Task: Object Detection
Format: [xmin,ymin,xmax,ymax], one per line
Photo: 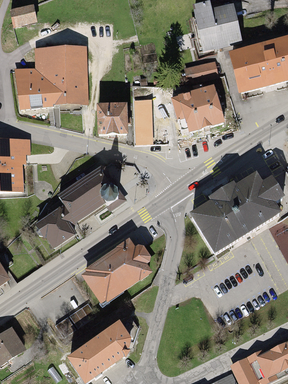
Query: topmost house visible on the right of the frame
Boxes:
[191,0,242,54]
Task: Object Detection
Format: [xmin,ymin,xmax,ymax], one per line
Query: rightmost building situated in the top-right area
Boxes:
[229,36,288,95]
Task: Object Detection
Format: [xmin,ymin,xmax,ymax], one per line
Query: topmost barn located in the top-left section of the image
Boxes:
[10,4,38,30]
